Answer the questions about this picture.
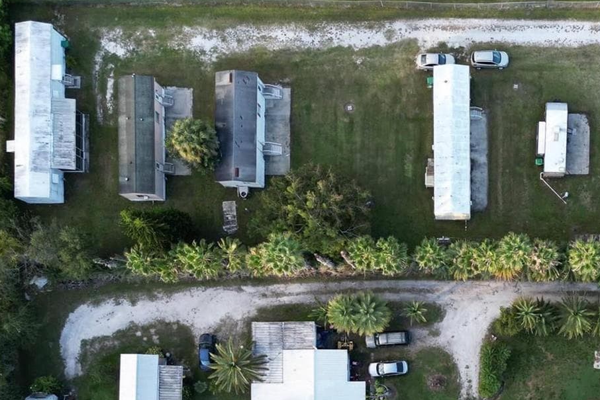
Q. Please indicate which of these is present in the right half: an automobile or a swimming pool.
automobile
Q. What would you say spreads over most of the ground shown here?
grass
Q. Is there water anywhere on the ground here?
No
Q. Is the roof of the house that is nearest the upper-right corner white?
Yes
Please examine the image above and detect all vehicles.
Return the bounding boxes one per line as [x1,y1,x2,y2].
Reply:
[367,331,410,349]
[415,52,454,71]
[368,360,409,377]
[197,331,215,370]
[470,49,508,70]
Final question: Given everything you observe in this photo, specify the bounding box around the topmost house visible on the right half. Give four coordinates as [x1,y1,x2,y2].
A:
[426,61,470,224]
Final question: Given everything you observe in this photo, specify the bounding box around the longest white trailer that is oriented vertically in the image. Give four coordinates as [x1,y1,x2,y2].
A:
[536,104,567,189]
